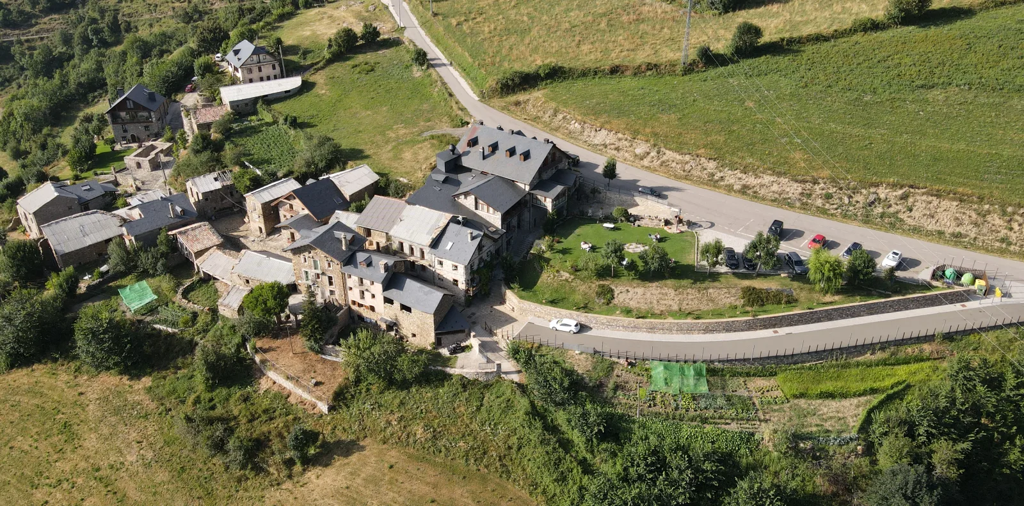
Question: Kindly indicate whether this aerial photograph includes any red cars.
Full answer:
Yes, a red car can be made out from above.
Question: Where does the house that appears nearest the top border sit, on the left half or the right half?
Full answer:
The house that appears nearest the top border sits on the left side.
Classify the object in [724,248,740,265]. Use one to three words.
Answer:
car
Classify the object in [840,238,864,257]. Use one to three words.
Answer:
car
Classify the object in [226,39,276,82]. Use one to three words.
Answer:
house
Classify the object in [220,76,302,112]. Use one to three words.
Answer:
shed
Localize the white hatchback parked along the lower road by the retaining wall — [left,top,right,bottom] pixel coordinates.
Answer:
[549,318,581,335]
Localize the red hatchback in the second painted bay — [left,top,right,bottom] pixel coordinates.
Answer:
[807,231,828,248]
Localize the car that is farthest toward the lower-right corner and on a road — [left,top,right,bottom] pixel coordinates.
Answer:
[881,250,904,267]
